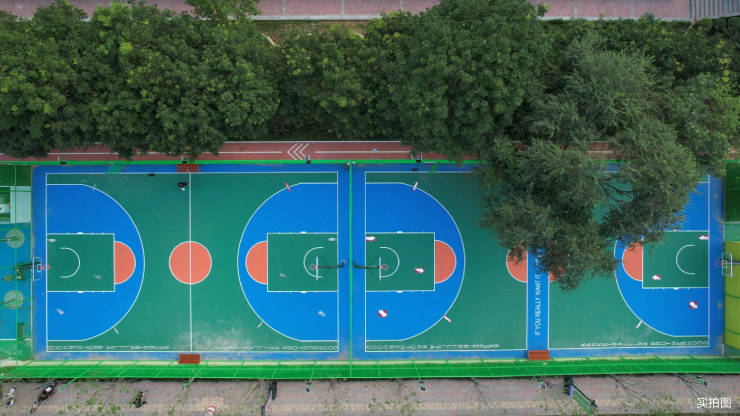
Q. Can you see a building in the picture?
No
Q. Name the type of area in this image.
sports ground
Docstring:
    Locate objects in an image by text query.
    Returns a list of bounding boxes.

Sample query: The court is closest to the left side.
[0,164,31,361]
